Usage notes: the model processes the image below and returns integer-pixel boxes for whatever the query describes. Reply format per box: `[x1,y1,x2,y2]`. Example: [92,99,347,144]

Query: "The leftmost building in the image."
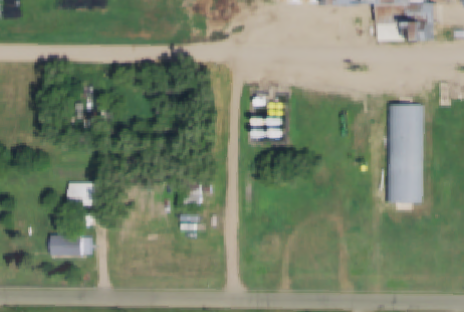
[4,0,22,17]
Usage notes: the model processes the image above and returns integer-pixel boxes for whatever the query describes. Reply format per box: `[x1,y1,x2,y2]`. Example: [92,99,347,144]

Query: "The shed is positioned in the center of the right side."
[388,103,426,202]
